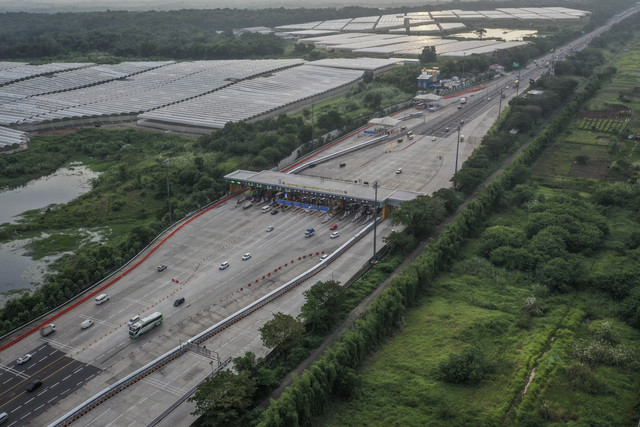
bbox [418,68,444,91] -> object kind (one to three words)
building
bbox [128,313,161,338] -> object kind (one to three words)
bus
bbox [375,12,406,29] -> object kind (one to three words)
greenhouse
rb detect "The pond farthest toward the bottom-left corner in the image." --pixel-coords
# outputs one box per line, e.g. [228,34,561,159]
[0,234,68,303]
